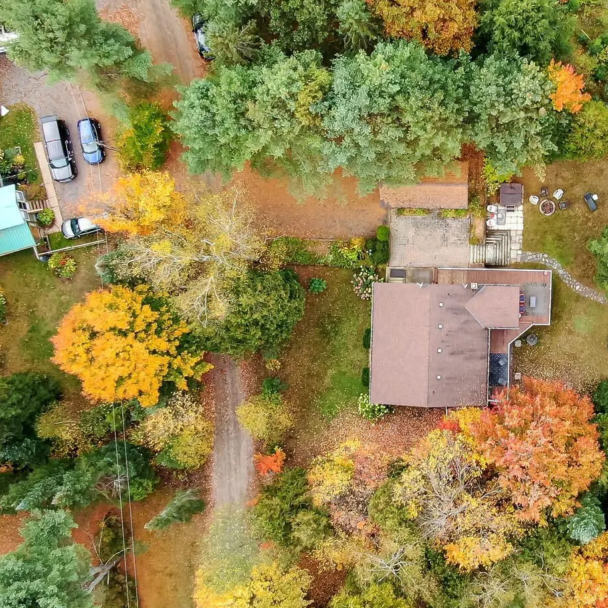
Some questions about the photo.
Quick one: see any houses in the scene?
Yes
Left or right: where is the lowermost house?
right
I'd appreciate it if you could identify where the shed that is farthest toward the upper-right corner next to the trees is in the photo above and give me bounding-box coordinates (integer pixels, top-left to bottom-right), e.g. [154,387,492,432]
[500,184,523,206]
